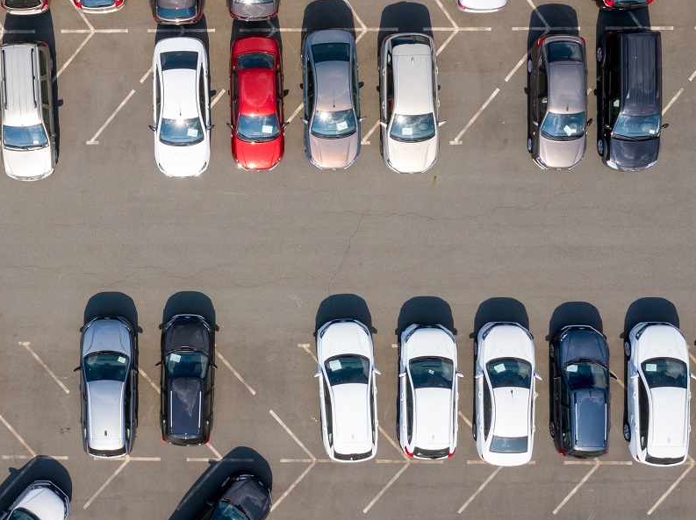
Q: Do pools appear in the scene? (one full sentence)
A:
No, the frame has no pool in it.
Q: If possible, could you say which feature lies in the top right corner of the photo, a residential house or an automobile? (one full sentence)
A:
The feature located in the top right corner of the photo is an automobile.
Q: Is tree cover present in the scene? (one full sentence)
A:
No, the scene doesn't show any tree cover.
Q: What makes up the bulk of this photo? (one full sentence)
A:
For the most part, this view shows paved ground.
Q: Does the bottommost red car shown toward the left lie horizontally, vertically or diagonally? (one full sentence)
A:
The bottommost red car shown toward the left has been laid out vertically relative to the frame.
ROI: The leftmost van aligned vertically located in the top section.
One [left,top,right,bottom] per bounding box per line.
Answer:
[0,42,59,181]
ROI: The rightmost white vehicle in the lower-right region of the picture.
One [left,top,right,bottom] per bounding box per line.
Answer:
[625,321,696,466]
